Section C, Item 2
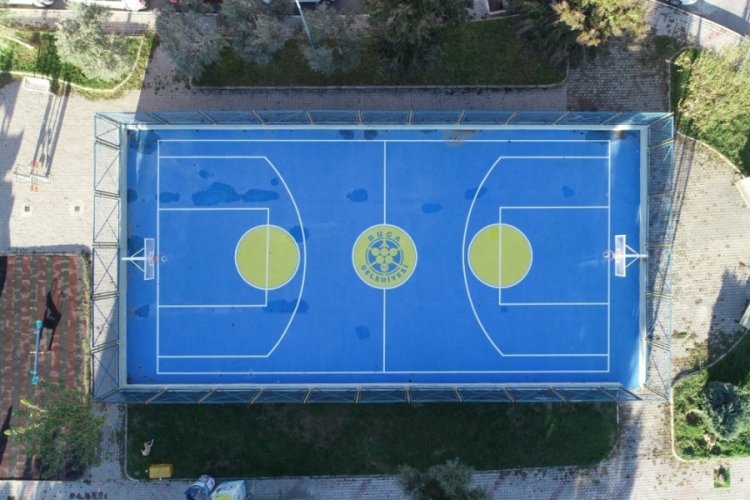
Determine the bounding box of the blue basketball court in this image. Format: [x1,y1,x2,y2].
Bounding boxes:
[126,130,639,385]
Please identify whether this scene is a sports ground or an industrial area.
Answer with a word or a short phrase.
sports ground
